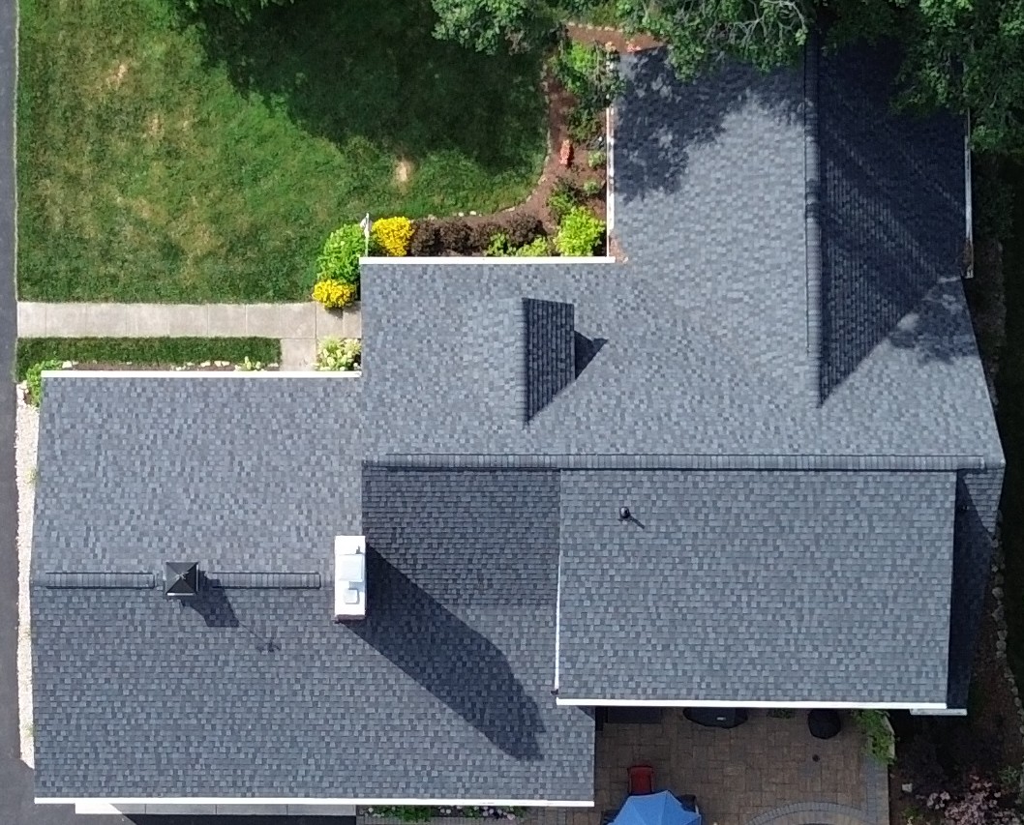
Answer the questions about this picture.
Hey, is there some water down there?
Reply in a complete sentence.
No, water can't be seen anywhere here.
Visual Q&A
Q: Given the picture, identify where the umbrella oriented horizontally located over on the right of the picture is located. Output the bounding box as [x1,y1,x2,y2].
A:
[614,789,701,825]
